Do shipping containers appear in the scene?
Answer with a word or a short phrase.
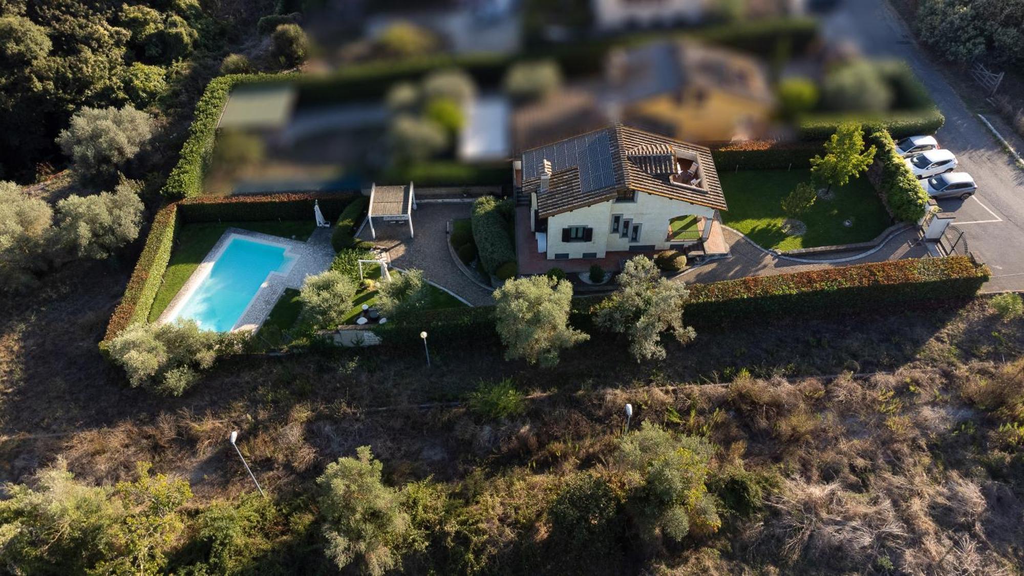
No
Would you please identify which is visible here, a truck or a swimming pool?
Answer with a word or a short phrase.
swimming pool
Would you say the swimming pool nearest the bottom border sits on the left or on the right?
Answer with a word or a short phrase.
left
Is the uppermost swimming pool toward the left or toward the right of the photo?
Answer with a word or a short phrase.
left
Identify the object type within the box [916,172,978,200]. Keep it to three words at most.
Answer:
car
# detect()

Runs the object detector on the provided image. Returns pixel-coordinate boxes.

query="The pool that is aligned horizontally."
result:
[222,173,373,196]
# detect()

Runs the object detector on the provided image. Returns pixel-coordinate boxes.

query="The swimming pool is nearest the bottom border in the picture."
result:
[161,233,304,335]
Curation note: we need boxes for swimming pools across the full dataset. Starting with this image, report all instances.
[222,173,373,196]
[161,233,304,335]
